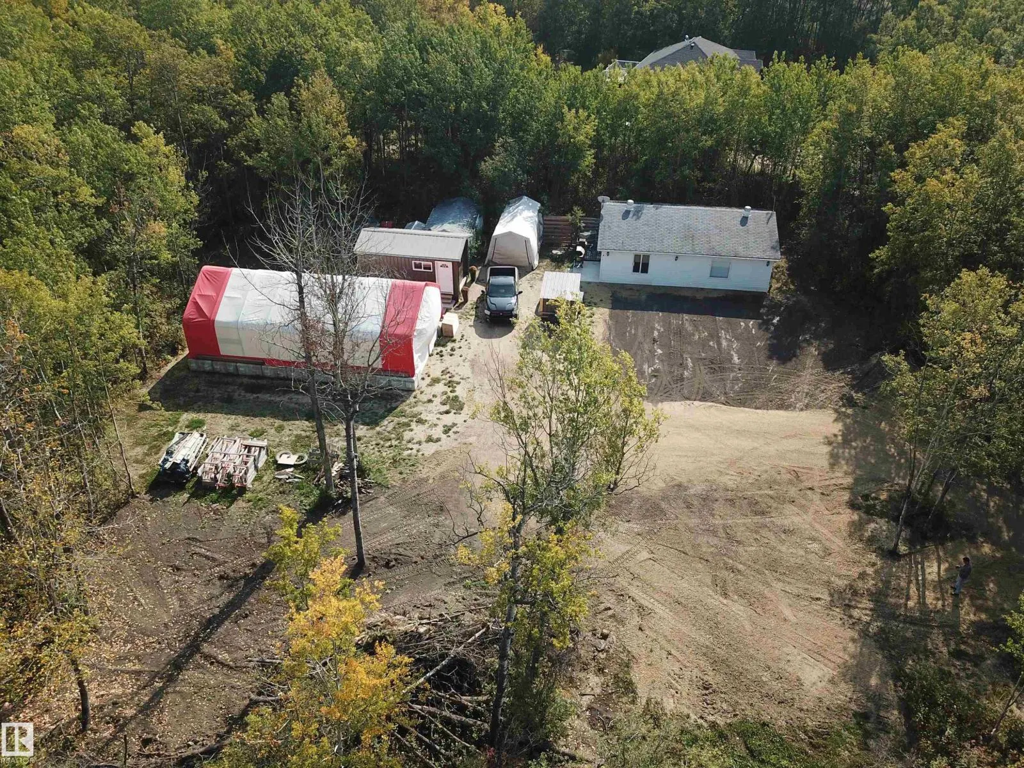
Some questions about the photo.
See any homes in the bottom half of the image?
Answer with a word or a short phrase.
No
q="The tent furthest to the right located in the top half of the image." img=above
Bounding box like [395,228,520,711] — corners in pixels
[485,195,545,268]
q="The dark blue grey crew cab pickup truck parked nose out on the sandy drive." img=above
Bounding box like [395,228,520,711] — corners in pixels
[484,270,523,323]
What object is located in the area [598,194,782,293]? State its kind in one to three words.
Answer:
house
